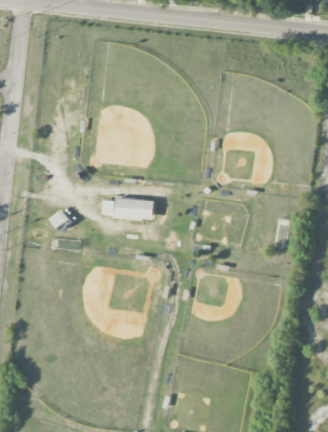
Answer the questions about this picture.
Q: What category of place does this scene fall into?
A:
sports ground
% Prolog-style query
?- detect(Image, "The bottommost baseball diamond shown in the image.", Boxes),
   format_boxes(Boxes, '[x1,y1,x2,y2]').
[166,355,252,432]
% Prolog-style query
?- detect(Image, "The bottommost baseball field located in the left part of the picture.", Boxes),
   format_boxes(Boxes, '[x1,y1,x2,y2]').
[20,253,168,431]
